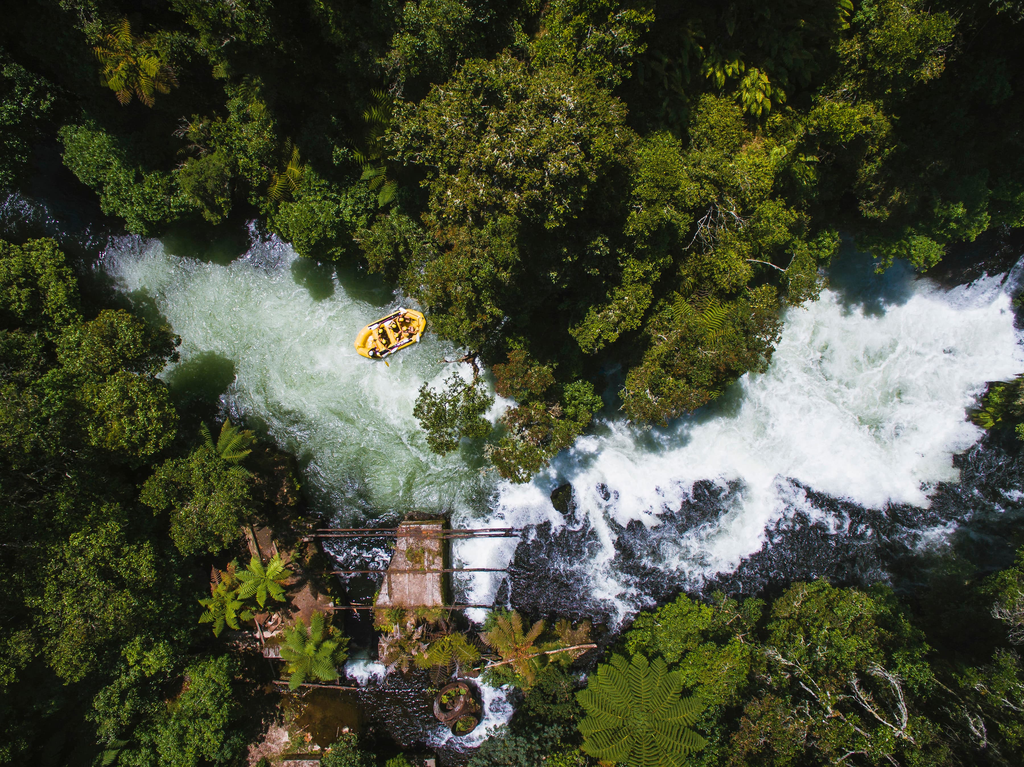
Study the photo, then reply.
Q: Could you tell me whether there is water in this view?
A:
Yes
